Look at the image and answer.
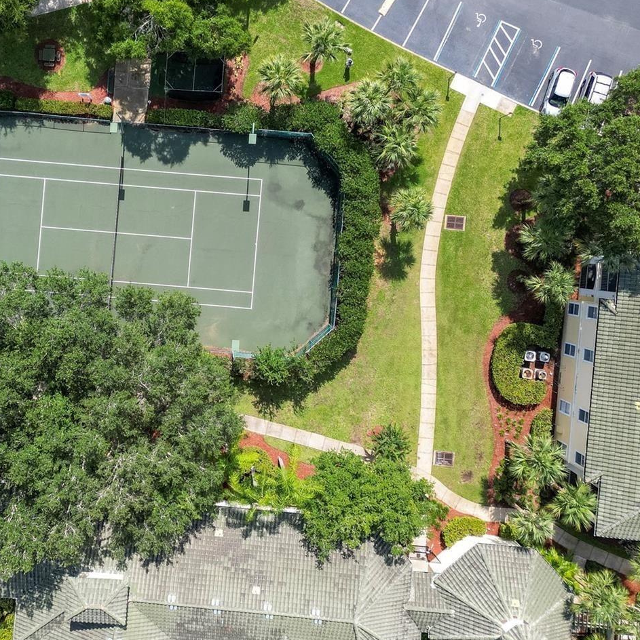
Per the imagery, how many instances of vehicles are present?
two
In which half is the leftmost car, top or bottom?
top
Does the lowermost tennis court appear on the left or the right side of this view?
left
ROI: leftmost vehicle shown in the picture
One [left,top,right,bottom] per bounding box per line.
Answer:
[544,65,585,118]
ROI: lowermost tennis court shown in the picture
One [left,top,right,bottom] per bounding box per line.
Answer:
[0,117,336,352]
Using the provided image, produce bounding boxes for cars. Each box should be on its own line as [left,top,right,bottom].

[544,65,585,118]
[580,67,627,121]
